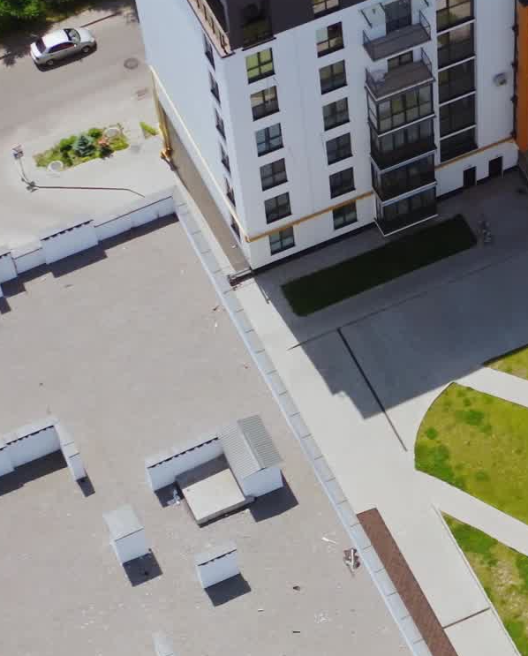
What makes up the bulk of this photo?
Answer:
buildings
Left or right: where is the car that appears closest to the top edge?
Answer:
left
